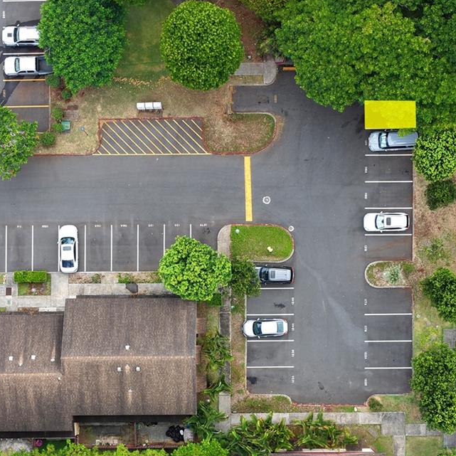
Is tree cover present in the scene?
Yes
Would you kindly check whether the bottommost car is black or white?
white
